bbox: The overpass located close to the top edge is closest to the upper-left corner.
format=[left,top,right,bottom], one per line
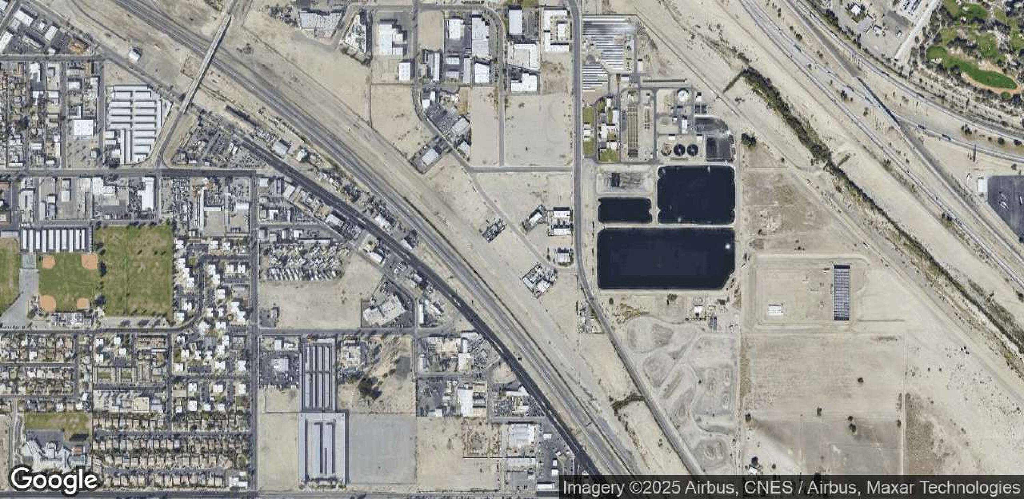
[156,0,245,169]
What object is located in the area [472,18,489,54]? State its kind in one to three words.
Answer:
building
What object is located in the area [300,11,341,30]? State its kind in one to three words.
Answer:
building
